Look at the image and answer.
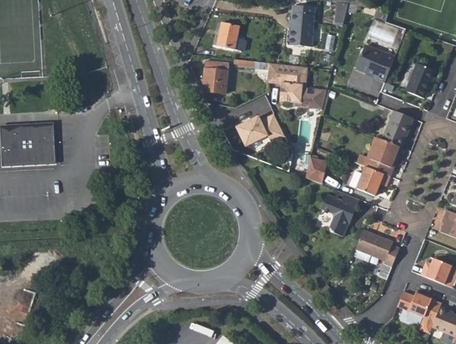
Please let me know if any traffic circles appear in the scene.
Yes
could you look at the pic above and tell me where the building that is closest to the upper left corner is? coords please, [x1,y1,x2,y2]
[0,122,57,168]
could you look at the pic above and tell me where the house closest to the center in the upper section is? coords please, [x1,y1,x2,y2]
[236,114,286,146]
